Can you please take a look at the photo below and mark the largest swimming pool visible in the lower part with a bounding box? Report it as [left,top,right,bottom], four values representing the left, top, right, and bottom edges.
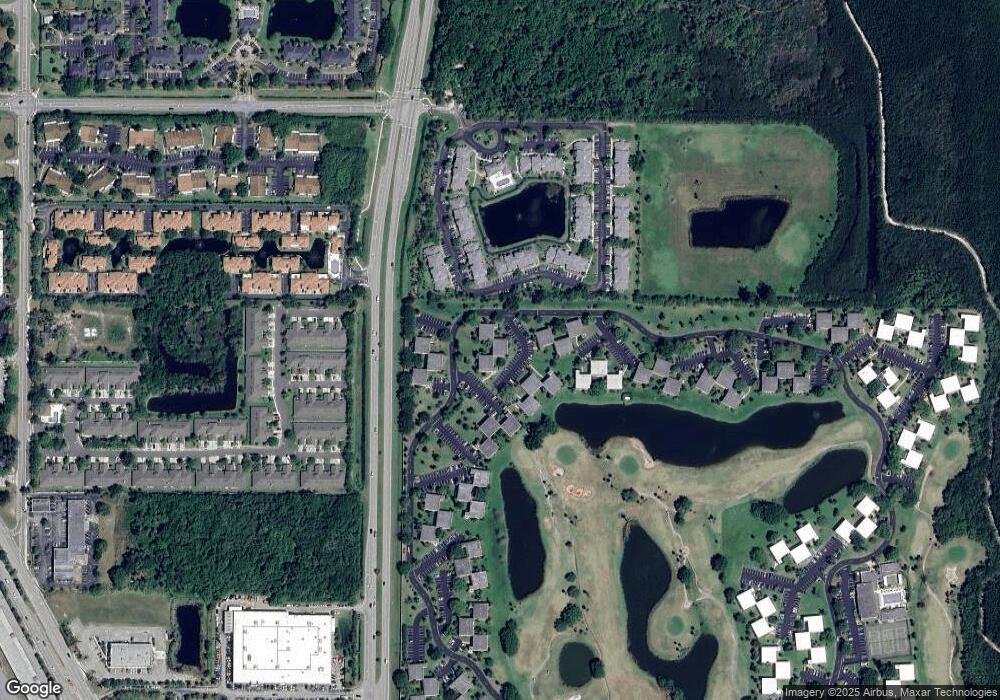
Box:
[879,589,906,608]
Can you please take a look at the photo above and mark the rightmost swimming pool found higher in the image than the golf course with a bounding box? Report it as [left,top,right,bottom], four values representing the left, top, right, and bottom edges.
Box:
[491,173,514,190]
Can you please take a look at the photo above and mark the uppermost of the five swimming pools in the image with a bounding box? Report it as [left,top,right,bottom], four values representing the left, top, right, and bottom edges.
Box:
[239,6,260,20]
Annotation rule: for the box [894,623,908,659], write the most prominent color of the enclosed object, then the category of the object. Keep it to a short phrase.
gray tennis court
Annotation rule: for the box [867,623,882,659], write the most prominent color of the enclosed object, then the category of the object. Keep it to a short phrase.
gray tennis court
